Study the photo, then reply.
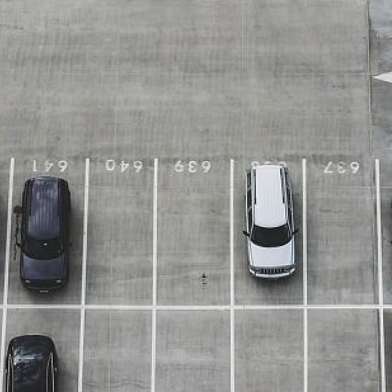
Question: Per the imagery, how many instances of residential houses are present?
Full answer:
I count no residential houses.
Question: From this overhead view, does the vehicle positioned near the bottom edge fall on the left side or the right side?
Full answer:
The vehicle positioned near the bottom edge is on the left side of the image.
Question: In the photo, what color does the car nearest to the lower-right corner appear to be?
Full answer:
The color of the car nearest to the lower-right corner is white.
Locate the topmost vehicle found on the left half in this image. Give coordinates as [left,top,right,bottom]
[15,176,72,291]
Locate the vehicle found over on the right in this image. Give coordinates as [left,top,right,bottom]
[243,164,299,278]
